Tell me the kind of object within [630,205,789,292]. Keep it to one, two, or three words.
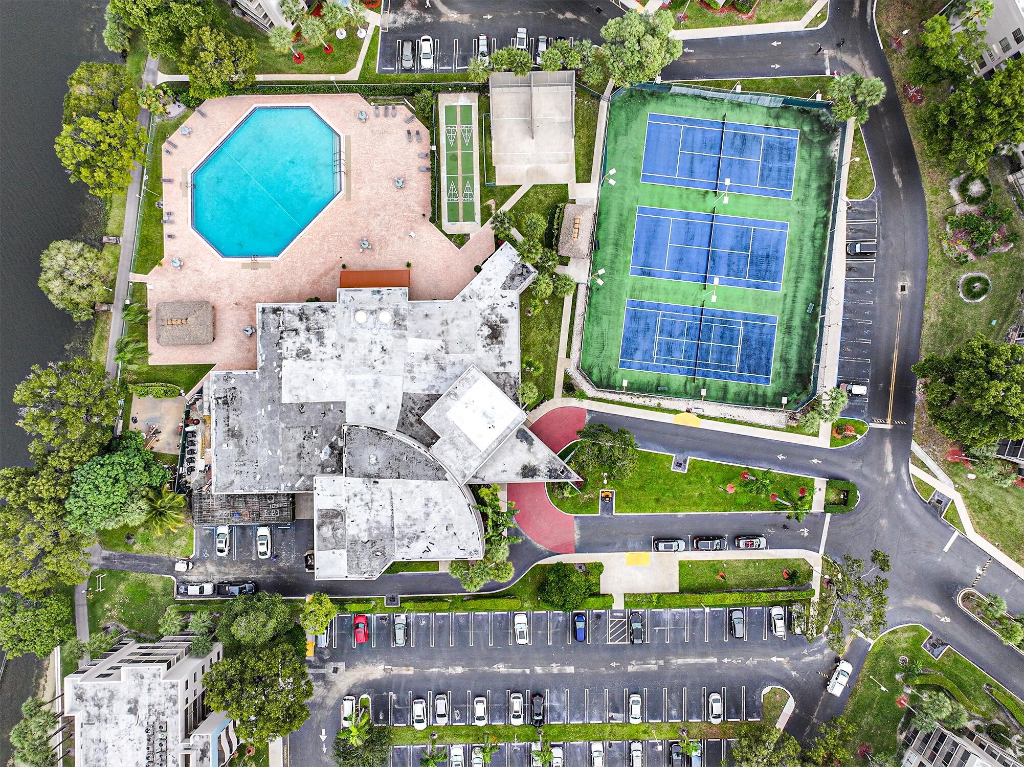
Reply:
tennis court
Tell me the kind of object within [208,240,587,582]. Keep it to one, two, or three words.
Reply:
building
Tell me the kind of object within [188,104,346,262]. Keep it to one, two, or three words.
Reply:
swimming pool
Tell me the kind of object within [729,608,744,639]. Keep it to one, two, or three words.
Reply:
car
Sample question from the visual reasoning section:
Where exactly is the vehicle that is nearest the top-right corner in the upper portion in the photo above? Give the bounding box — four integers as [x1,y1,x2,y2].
[845,242,878,255]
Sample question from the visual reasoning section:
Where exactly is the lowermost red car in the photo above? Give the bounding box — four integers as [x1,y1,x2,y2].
[354,613,368,643]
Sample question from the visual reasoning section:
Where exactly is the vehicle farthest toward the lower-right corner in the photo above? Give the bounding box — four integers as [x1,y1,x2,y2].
[826,660,854,700]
